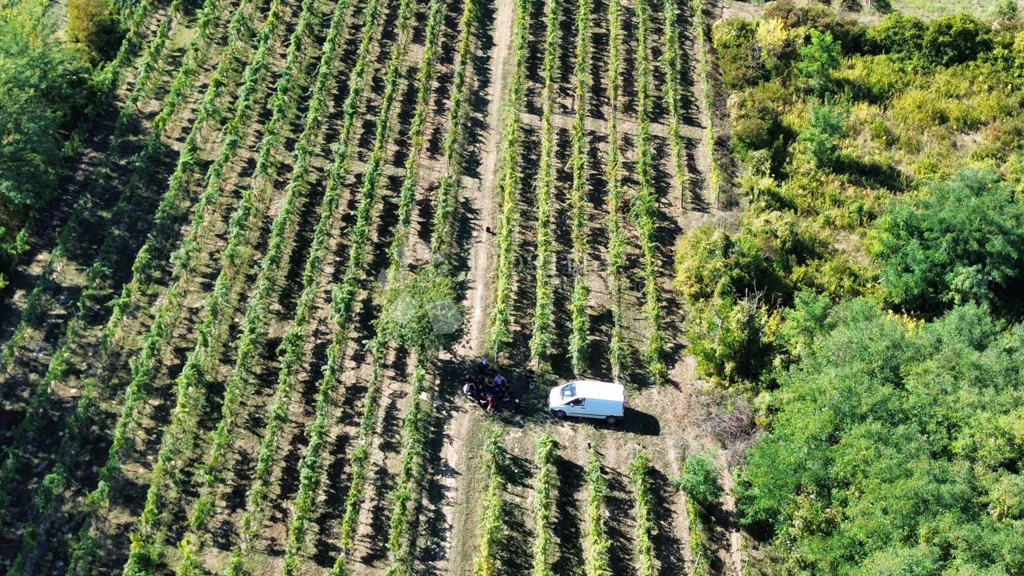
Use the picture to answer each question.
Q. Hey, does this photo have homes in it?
No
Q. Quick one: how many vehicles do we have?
1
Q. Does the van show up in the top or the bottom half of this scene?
bottom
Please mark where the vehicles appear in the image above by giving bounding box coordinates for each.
[547,382,627,425]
